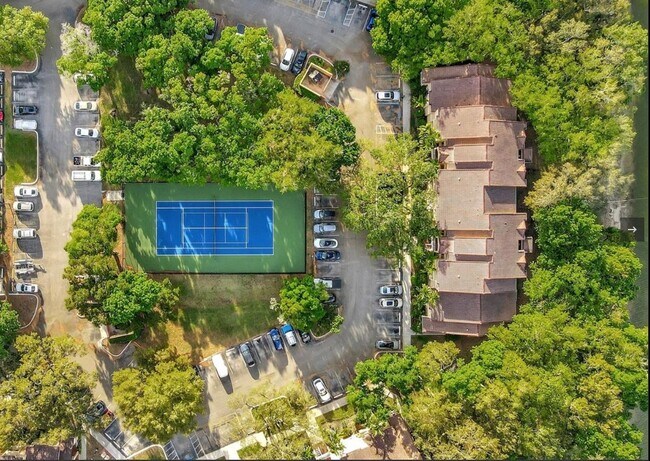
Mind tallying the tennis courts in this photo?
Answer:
1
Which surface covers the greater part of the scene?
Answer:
trees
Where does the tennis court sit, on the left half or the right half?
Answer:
left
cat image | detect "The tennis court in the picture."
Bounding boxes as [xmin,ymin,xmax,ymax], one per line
[124,183,305,274]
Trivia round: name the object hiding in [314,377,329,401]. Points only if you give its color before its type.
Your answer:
white car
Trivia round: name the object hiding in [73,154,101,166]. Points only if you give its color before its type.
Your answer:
white vehicle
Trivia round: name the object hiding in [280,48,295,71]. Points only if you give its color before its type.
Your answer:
white car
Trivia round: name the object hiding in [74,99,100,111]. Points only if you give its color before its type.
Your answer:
white vehicle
